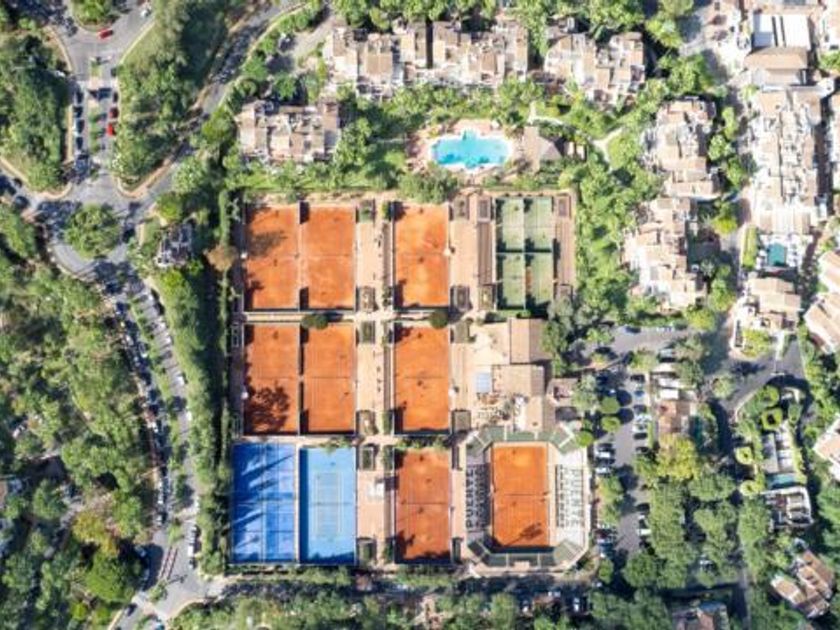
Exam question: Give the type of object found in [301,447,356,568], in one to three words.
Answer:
tennis court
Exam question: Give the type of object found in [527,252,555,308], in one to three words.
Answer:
sports court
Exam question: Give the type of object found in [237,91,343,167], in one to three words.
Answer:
building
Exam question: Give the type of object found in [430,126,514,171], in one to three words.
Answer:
swimming pool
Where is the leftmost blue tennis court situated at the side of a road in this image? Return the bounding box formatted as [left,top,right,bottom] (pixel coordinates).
[231,443,298,566]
